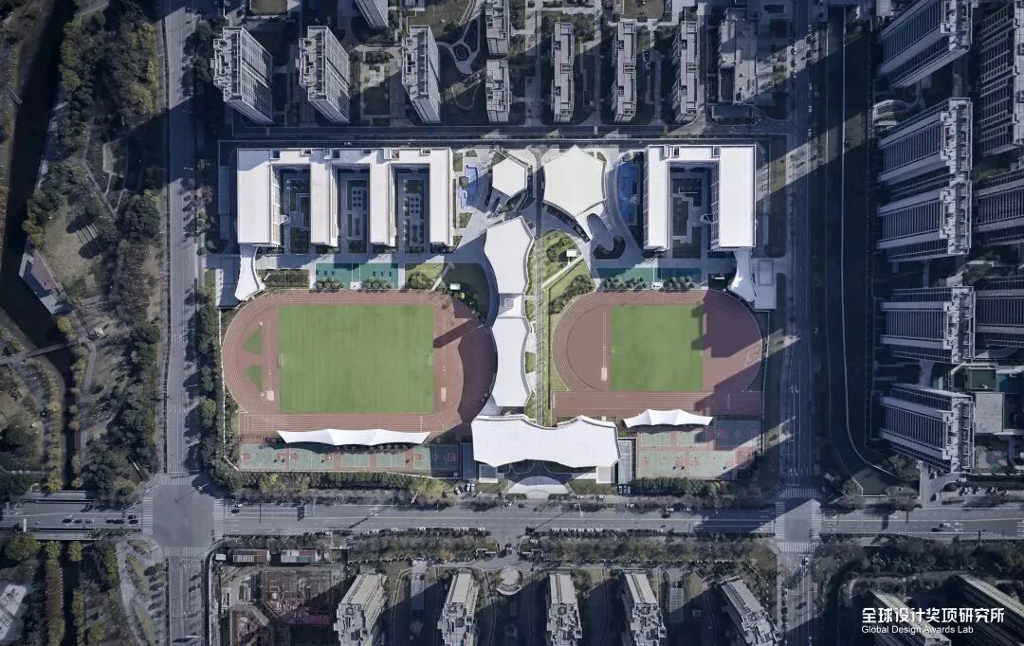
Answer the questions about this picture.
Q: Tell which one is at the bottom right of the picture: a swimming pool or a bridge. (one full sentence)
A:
Looking at the bottom right of the picture, you will find a bridge.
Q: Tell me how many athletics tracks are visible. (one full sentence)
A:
I count 2 athletics tracks.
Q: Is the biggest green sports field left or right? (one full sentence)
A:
You can find the biggest green sports field on the left side of the picture.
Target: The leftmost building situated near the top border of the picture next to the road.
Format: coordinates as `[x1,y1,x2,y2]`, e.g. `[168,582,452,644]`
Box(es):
[213,25,274,124]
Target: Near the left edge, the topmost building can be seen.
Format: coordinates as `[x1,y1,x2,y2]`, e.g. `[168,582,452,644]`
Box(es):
[19,248,75,314]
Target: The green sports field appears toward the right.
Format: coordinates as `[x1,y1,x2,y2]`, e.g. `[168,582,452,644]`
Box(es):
[610,305,702,390]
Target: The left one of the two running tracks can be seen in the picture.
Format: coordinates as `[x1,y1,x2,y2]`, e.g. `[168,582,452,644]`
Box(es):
[221,288,496,444]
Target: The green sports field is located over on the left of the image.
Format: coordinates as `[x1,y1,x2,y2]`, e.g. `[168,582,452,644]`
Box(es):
[280,305,433,414]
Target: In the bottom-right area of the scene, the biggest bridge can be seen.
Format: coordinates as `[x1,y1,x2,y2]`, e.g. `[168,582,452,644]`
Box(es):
[853,496,908,544]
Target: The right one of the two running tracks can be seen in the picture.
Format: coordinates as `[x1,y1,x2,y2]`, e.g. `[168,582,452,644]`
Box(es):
[551,289,763,420]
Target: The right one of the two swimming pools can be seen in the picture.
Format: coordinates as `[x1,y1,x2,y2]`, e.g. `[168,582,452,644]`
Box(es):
[613,159,642,227]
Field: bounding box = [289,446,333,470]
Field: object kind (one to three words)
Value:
basketball court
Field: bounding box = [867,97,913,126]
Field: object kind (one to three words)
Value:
building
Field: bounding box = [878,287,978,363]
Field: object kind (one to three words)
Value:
building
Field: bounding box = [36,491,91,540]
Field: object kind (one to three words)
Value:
bridge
